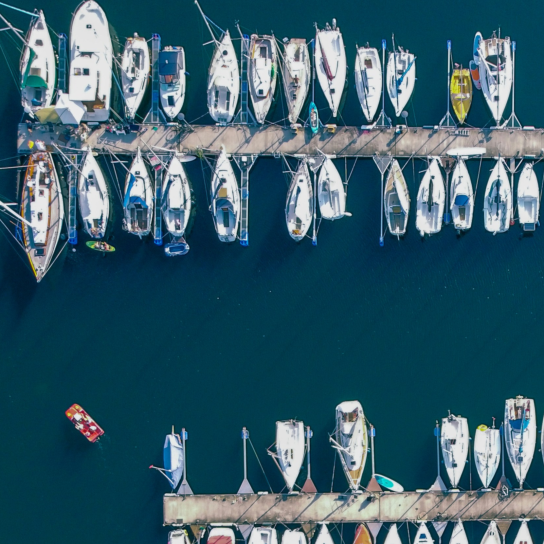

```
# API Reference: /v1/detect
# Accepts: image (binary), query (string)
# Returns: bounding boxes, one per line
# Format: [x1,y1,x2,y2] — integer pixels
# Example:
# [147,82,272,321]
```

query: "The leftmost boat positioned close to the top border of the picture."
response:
[0,7,61,123]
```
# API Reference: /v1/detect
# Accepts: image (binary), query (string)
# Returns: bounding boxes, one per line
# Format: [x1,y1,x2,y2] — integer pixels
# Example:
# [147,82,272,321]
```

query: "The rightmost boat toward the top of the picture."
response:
[512,160,542,231]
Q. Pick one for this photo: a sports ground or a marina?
marina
